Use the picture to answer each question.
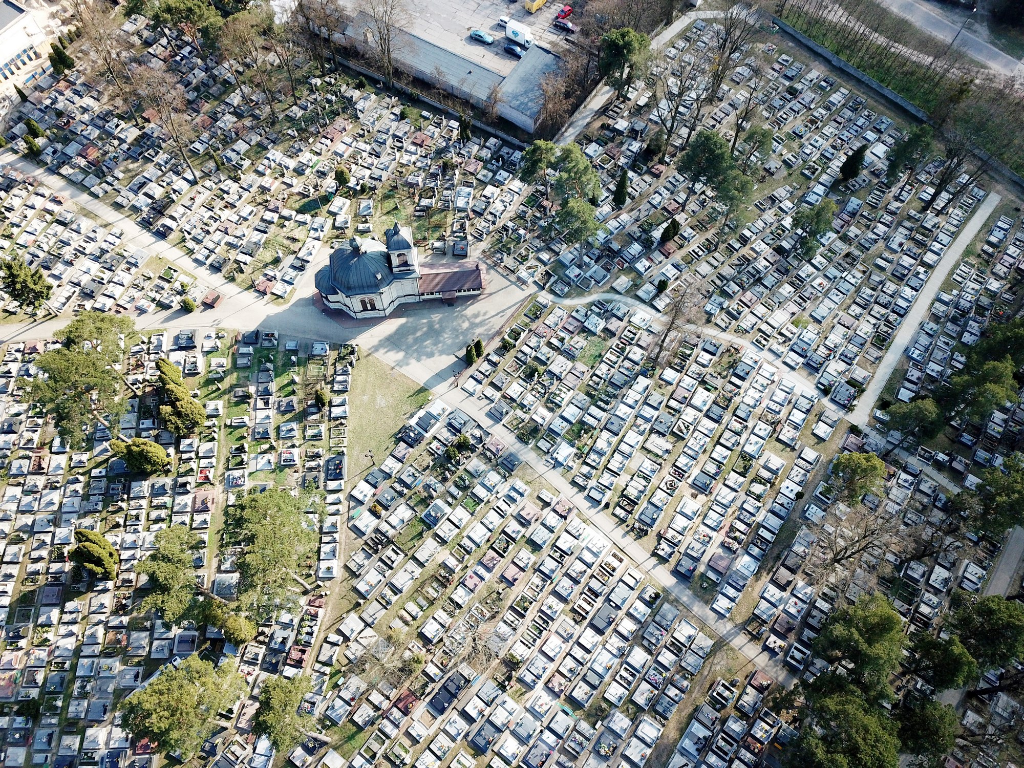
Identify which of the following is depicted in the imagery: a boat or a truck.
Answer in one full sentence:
There is a truck in the scene.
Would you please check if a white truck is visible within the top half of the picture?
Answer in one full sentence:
Yes, there is a white truck within the top half of the picture.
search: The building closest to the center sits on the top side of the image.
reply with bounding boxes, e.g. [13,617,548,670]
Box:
[315,211,482,319]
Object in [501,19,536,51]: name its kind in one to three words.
truck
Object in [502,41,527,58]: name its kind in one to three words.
car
